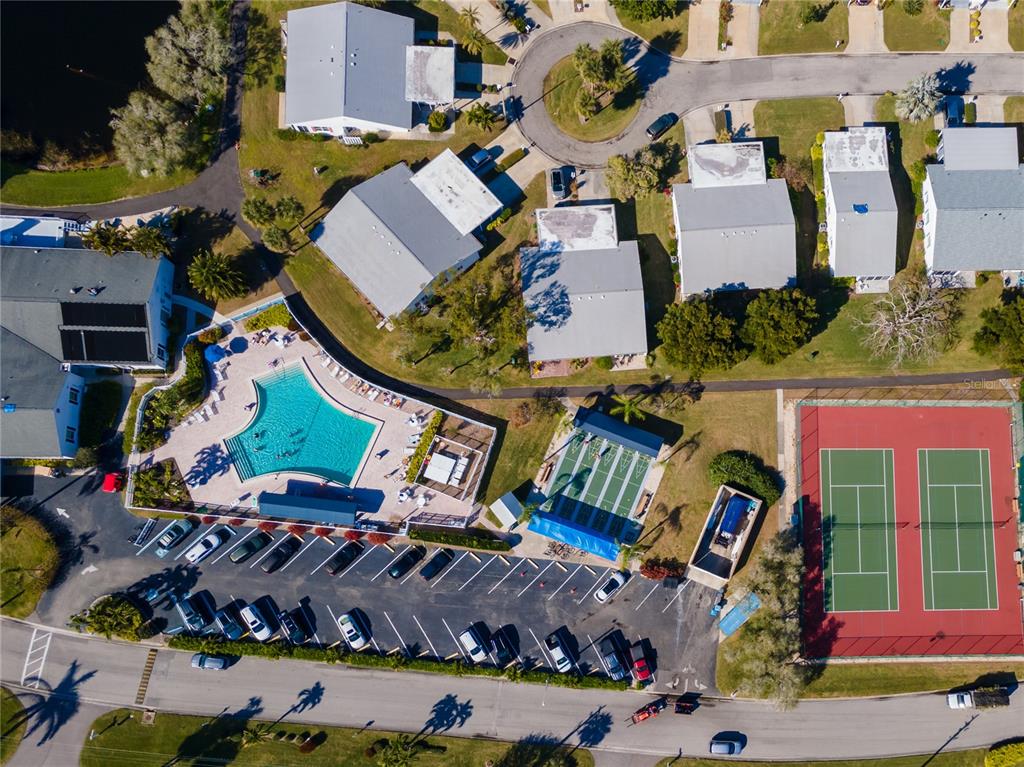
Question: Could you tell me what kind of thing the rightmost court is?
tennis court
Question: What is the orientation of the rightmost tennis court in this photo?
vertically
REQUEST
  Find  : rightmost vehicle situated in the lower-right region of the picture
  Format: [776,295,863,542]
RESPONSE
[950,688,1016,714]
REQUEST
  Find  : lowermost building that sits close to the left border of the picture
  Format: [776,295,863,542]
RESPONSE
[0,245,171,456]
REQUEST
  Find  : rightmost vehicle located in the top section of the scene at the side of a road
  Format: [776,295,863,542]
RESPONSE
[946,95,963,128]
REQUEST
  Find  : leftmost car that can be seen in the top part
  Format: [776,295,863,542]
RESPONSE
[464,148,491,173]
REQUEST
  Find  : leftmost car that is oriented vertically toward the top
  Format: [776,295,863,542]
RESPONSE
[551,170,565,200]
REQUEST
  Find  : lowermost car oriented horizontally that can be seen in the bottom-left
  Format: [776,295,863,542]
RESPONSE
[191,653,228,670]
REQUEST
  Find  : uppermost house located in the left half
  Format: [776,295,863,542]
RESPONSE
[286,0,455,137]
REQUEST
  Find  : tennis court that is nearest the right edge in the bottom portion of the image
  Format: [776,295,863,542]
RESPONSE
[917,421,999,640]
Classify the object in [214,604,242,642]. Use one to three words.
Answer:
truck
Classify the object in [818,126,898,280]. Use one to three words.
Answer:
house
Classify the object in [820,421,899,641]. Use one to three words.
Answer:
tennis court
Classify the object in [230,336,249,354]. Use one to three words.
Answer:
umbrella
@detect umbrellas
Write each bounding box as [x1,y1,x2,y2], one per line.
[222,323,234,333]
[230,336,249,354]
[205,345,226,365]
